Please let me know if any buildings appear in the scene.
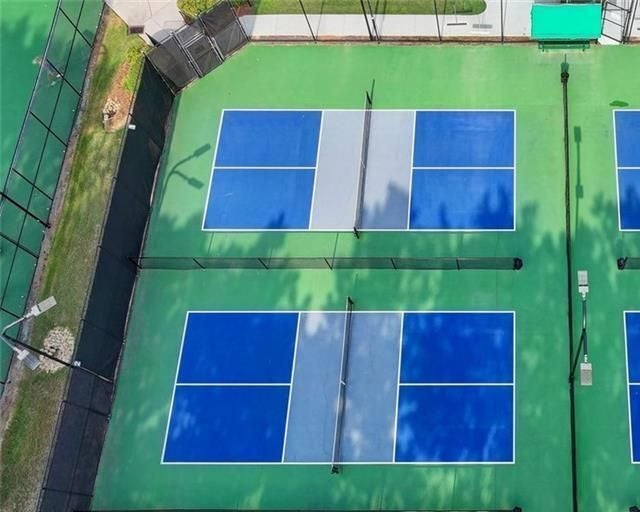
No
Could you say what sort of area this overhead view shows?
sports ground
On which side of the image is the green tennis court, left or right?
left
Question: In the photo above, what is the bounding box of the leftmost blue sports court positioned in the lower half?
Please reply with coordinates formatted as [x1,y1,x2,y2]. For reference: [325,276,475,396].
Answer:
[161,310,515,464]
